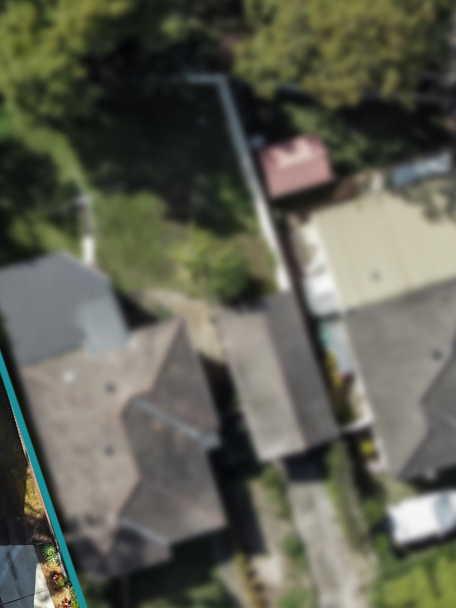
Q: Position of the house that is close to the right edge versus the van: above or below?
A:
above it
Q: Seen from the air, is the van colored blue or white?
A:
white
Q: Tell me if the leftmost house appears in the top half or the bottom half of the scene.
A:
bottom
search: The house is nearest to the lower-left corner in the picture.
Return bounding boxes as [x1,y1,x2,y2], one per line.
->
[18,316,229,588]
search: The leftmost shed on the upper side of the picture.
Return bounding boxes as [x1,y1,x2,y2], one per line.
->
[251,136,332,205]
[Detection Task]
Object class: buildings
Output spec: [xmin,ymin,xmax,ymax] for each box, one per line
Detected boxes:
[18,316,229,588]
[344,277,456,481]
[251,136,332,205]
[208,292,340,464]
